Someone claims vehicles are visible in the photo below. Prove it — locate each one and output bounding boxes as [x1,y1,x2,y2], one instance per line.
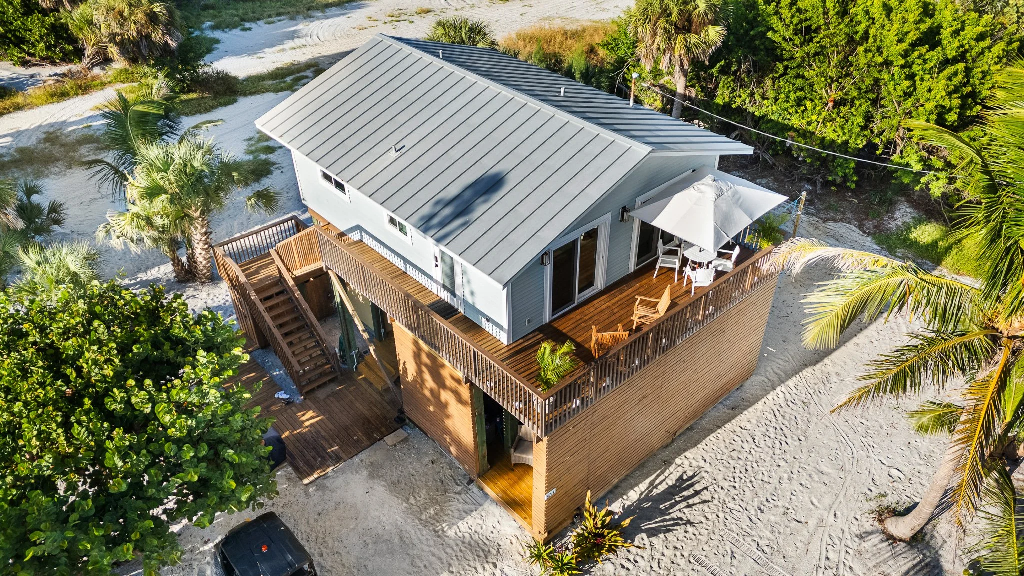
[209,514,320,576]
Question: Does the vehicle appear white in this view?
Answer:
No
